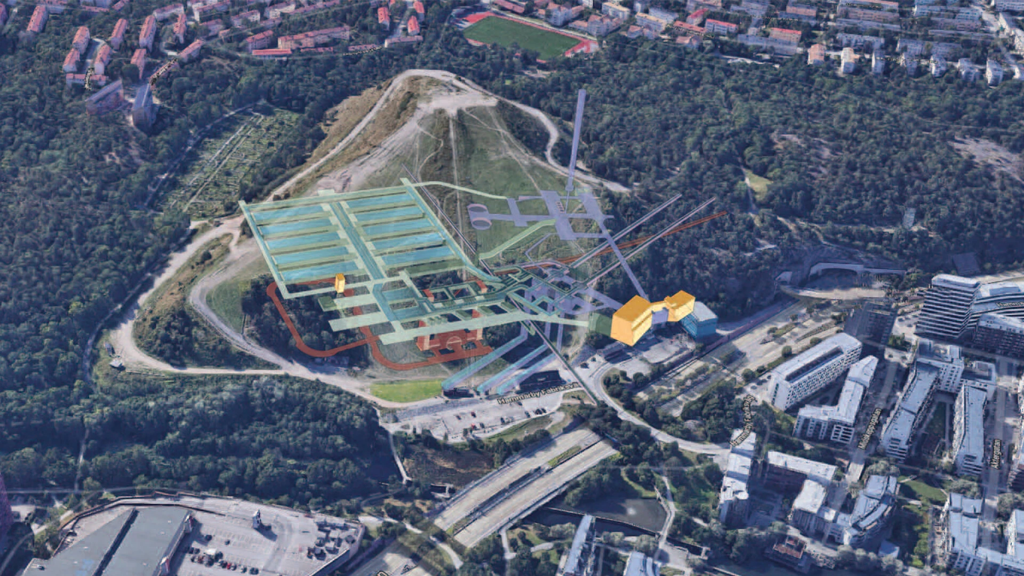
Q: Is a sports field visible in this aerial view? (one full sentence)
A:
Yes, there's a sports field down there.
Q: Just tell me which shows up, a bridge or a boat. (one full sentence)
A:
Of the two, only a bridge appears.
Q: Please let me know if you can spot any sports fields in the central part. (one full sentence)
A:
No, no sports field is visible in the central part.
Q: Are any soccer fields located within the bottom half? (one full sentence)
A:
No, within the bottom half there is no soccer field.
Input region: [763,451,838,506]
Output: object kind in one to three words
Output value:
building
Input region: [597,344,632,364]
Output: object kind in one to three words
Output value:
shed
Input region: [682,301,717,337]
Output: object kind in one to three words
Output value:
building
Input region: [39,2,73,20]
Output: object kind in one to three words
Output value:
house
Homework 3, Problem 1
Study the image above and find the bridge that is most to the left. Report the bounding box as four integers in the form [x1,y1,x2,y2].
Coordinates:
[431,425,620,550]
